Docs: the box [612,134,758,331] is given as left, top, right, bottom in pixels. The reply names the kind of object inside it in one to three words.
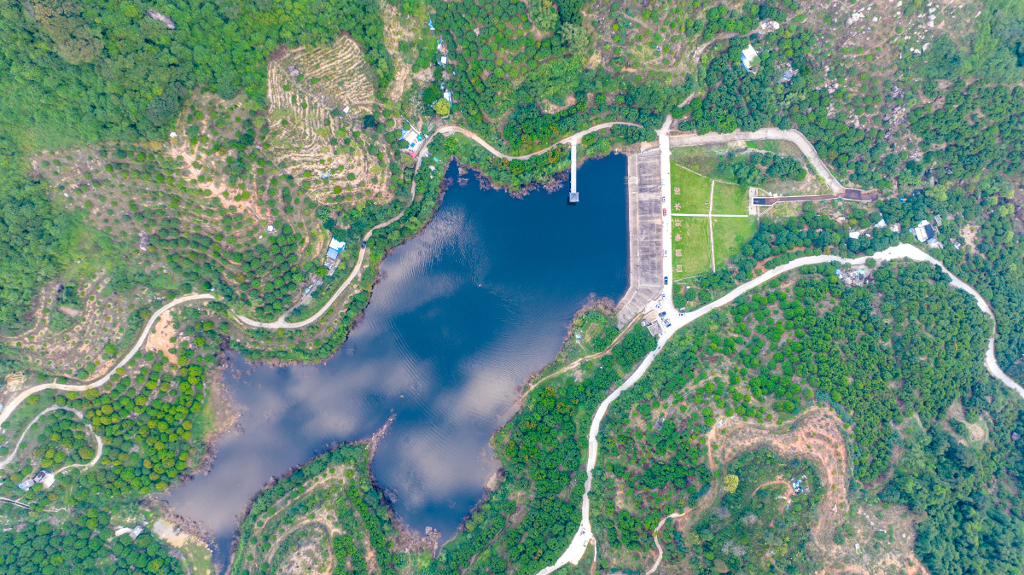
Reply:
dam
